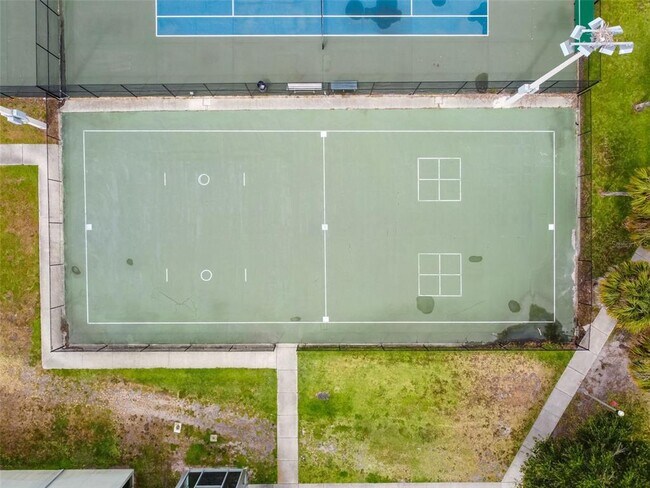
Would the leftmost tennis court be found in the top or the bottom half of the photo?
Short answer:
top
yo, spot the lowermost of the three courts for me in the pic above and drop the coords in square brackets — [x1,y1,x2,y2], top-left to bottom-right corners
[62,107,577,346]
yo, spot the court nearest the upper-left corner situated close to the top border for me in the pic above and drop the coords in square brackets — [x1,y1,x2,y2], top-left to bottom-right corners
[0,0,60,98]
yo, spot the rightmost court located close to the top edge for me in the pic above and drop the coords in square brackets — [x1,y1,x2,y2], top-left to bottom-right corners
[60,0,578,96]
